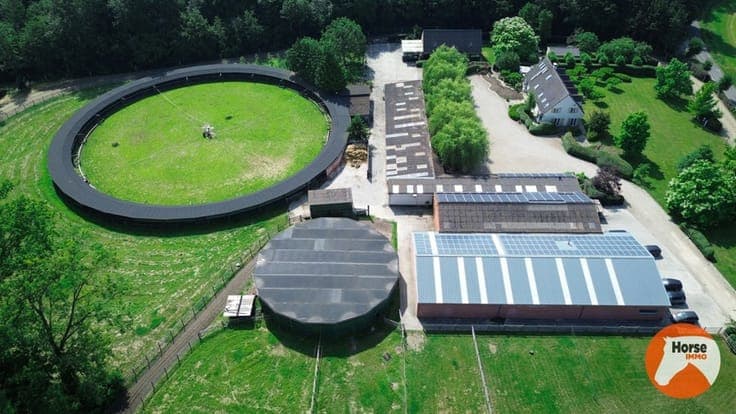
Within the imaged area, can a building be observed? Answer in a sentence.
Yes, a building can be made out from above.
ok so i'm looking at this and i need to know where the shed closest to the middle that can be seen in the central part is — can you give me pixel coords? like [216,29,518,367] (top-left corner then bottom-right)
[308,187,353,213]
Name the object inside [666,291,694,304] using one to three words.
vehicle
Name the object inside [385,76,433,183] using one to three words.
building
